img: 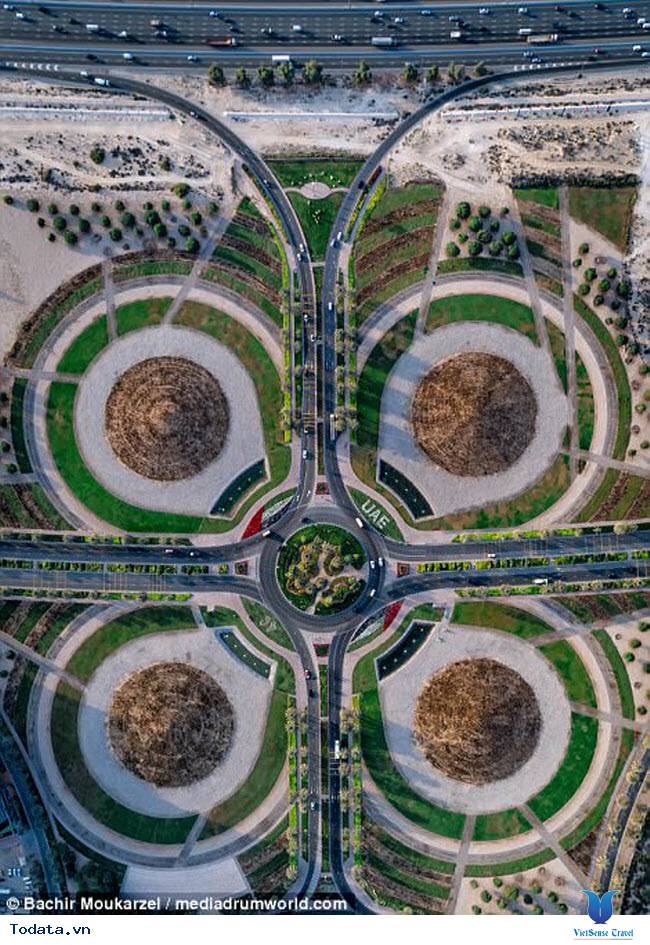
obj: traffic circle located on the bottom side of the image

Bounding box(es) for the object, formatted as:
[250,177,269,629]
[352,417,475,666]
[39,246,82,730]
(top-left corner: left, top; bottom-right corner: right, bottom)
[259,506,385,631]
